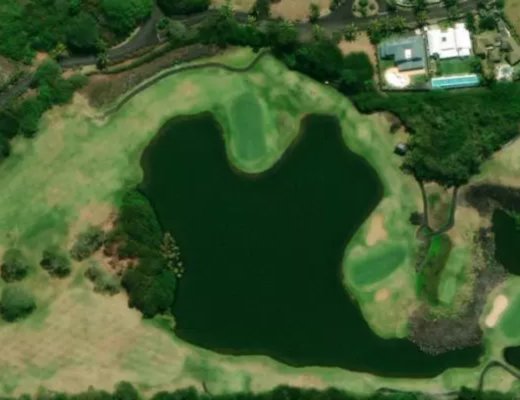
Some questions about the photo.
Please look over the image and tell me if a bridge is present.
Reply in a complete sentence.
No, the photo shows no bridge.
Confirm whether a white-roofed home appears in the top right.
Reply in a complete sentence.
Yes, in the top right there is a white-roofed home.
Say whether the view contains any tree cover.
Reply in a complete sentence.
Yes, some tree cover is visible.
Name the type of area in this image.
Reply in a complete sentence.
The picture captures a golf course.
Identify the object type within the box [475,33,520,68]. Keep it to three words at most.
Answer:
house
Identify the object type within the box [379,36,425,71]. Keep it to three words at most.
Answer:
house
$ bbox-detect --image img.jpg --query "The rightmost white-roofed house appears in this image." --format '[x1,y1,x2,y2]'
[427,22,472,58]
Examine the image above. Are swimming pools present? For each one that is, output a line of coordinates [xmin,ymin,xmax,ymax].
[431,73,480,88]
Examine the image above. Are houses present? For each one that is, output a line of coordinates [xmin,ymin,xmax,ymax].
[475,33,520,68]
[427,22,472,58]
[379,36,425,71]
